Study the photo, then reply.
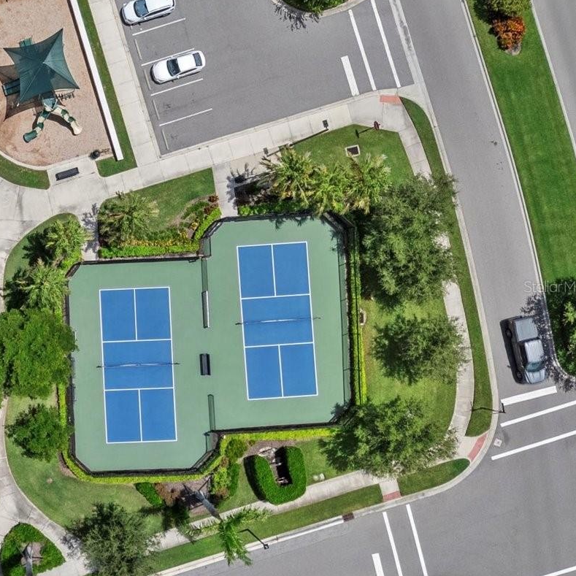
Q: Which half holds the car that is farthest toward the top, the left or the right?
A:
left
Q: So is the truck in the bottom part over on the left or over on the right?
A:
right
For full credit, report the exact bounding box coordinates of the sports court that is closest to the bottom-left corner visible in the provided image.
[70,259,219,472]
